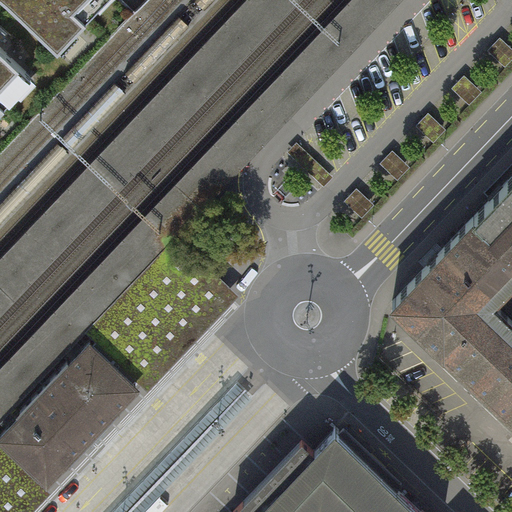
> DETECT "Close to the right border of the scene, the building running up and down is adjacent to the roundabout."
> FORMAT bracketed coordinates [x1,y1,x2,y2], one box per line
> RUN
[389,164,512,432]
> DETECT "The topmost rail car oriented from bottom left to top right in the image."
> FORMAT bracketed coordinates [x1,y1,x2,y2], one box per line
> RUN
[125,17,191,86]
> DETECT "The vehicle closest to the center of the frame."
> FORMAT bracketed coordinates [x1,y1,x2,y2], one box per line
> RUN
[236,266,259,290]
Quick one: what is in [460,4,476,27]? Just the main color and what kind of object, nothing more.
red car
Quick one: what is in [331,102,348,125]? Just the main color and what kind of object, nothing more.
white car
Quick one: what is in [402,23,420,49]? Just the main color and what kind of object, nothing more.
white vehicle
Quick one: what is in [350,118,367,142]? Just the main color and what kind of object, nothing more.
white car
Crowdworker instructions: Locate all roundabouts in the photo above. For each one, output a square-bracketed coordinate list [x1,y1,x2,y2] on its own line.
[244,253,376,398]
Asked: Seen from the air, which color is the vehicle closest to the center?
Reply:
white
